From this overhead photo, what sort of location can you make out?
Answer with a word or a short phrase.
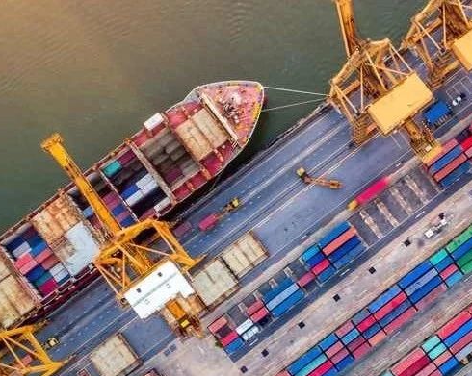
port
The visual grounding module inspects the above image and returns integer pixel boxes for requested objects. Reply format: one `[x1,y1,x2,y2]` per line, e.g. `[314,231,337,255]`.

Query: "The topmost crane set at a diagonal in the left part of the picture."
[36,126,219,343]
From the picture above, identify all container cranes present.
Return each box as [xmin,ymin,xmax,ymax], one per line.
[318,0,445,169]
[394,0,472,94]
[0,315,88,376]
[36,126,219,343]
